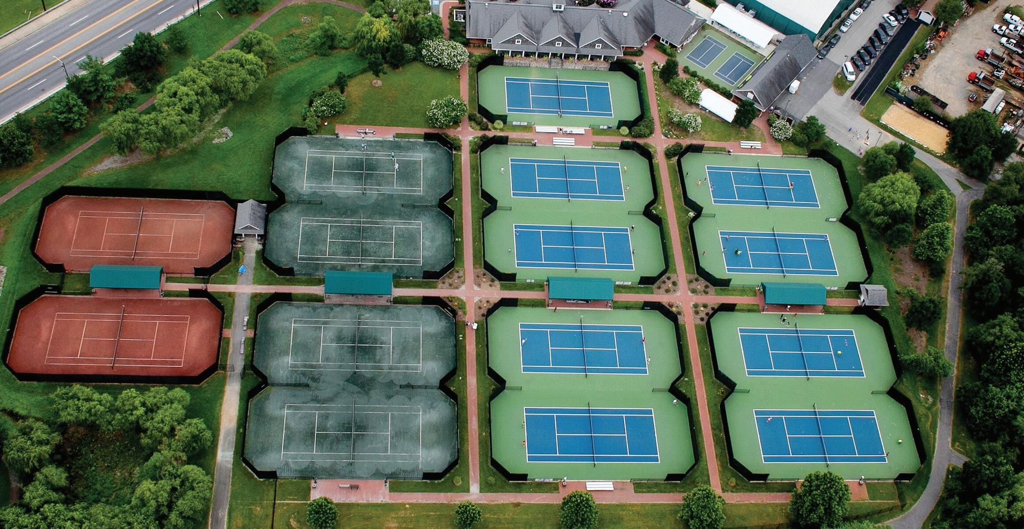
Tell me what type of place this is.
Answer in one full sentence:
The area seen from above is a sports ground.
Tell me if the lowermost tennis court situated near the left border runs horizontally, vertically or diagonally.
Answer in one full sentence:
The lowermost tennis court situated near the left border has been laid out horizontally relative to the frame.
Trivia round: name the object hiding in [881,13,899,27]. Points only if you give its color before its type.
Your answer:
white car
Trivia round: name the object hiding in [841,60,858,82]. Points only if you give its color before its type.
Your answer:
white vehicle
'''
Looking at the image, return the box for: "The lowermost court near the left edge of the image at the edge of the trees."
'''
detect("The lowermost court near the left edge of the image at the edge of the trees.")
[6,297,224,376]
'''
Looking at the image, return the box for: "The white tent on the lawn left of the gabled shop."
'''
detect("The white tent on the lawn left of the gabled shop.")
[697,92,741,129]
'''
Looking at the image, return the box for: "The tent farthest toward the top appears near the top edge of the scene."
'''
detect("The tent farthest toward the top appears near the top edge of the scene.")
[709,5,778,55]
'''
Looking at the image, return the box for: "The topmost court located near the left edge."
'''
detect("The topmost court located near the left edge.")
[35,196,237,274]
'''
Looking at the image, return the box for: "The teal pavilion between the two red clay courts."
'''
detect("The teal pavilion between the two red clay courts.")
[90,264,164,296]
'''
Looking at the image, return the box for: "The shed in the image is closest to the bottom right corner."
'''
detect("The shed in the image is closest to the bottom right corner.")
[856,284,889,312]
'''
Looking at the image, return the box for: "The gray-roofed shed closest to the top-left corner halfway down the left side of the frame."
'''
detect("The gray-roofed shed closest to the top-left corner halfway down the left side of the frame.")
[234,198,268,242]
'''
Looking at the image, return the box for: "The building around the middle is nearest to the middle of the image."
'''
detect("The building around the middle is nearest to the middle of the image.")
[547,276,613,308]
